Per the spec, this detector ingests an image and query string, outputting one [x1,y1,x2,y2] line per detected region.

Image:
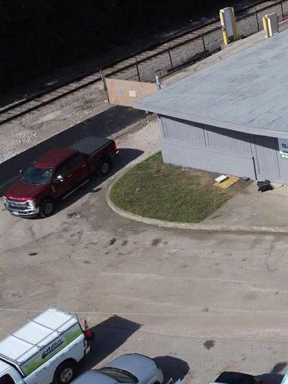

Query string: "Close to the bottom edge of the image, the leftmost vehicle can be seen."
[0,302,91,384]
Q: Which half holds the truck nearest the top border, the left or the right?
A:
left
